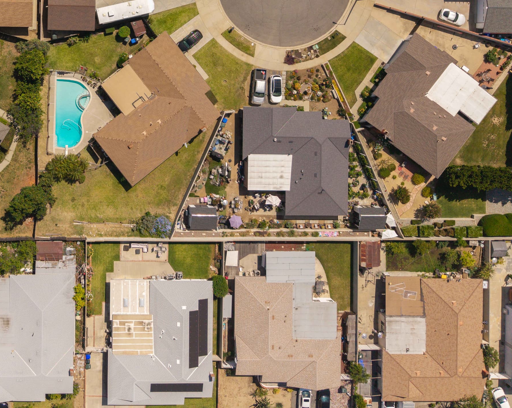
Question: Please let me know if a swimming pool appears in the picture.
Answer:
Yes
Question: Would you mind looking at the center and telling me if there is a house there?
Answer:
Yes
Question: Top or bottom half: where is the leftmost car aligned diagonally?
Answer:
top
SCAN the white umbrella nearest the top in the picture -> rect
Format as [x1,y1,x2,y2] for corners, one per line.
[265,191,282,207]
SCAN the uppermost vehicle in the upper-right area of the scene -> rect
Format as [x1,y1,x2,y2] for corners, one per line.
[437,8,466,27]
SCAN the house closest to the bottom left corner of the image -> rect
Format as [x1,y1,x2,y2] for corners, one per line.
[0,259,75,405]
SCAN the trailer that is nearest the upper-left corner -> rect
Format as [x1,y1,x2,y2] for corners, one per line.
[96,0,155,25]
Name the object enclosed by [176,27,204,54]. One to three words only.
car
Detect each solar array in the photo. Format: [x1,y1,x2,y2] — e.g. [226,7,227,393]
[189,310,199,368]
[150,383,203,392]
[199,298,208,356]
